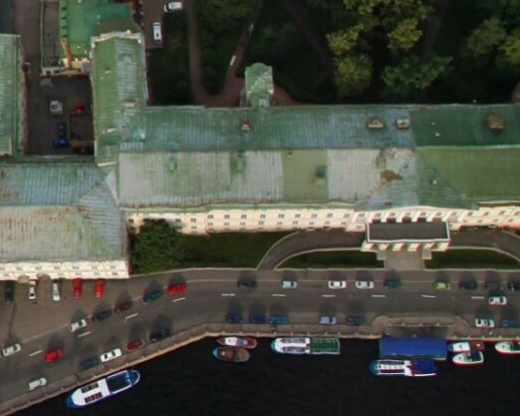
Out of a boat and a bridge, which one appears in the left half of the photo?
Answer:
boat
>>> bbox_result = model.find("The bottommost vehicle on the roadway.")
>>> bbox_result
[27,377,47,390]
